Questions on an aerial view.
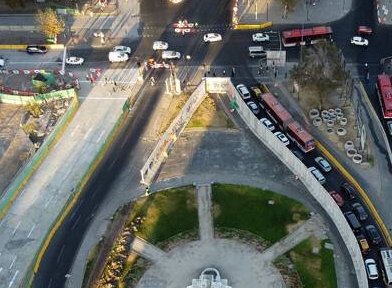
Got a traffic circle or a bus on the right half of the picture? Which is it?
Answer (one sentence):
Visible on the right half of the picture is a bus.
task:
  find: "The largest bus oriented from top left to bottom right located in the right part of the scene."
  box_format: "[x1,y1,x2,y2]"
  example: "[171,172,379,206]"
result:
[254,89,317,156]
